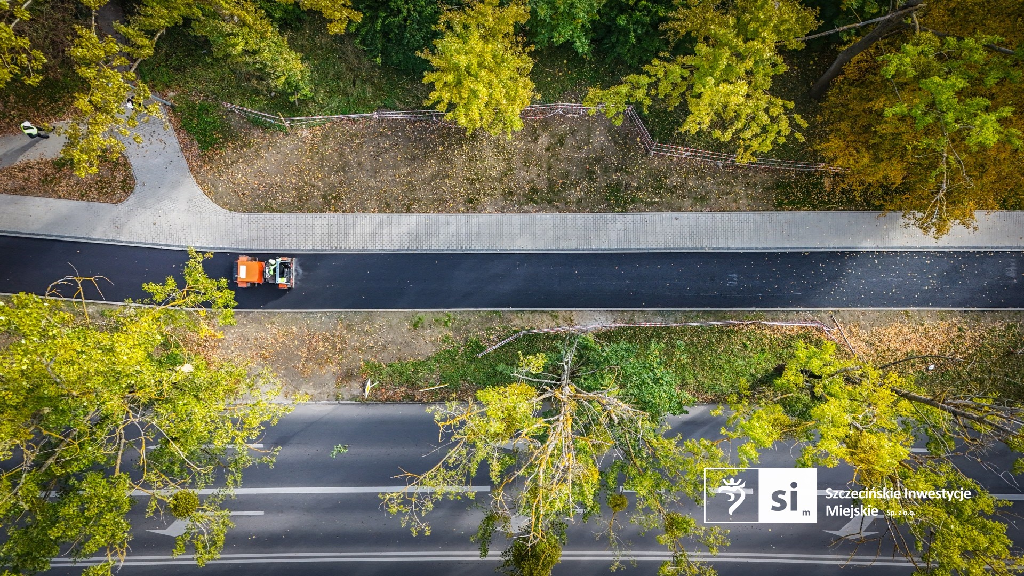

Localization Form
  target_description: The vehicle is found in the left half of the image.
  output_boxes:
[235,256,297,288]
